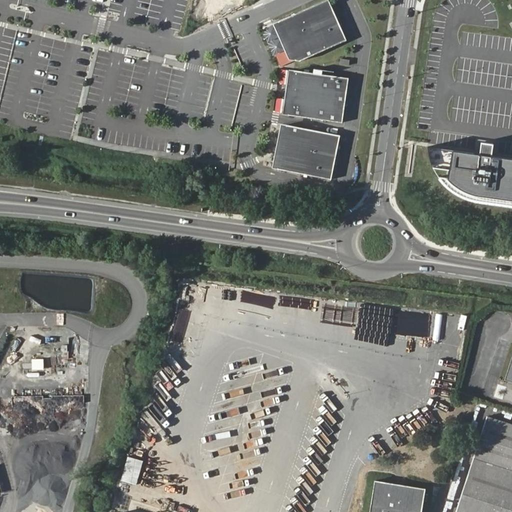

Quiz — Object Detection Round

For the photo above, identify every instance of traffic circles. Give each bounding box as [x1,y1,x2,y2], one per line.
[339,206,413,280]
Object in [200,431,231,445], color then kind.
white vehicle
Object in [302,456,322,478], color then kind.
white vehicle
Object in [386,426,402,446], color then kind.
gray vehicle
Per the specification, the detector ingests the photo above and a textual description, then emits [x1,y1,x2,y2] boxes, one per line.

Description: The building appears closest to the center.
[272,124,340,180]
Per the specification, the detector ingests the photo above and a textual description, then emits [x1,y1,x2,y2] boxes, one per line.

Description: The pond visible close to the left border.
[20,272,94,314]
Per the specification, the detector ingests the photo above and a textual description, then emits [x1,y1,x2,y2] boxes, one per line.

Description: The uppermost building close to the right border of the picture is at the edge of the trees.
[427,143,512,207]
